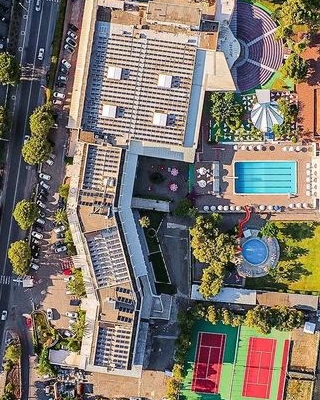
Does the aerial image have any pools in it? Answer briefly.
Yes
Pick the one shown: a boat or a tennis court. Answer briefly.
tennis court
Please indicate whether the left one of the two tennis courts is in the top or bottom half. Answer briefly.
bottom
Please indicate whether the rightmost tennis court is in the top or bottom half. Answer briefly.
bottom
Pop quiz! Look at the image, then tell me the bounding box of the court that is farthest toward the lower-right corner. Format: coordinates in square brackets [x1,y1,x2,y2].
[242,337,277,399]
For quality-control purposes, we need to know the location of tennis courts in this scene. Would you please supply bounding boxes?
[242,337,277,399]
[192,332,226,394]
